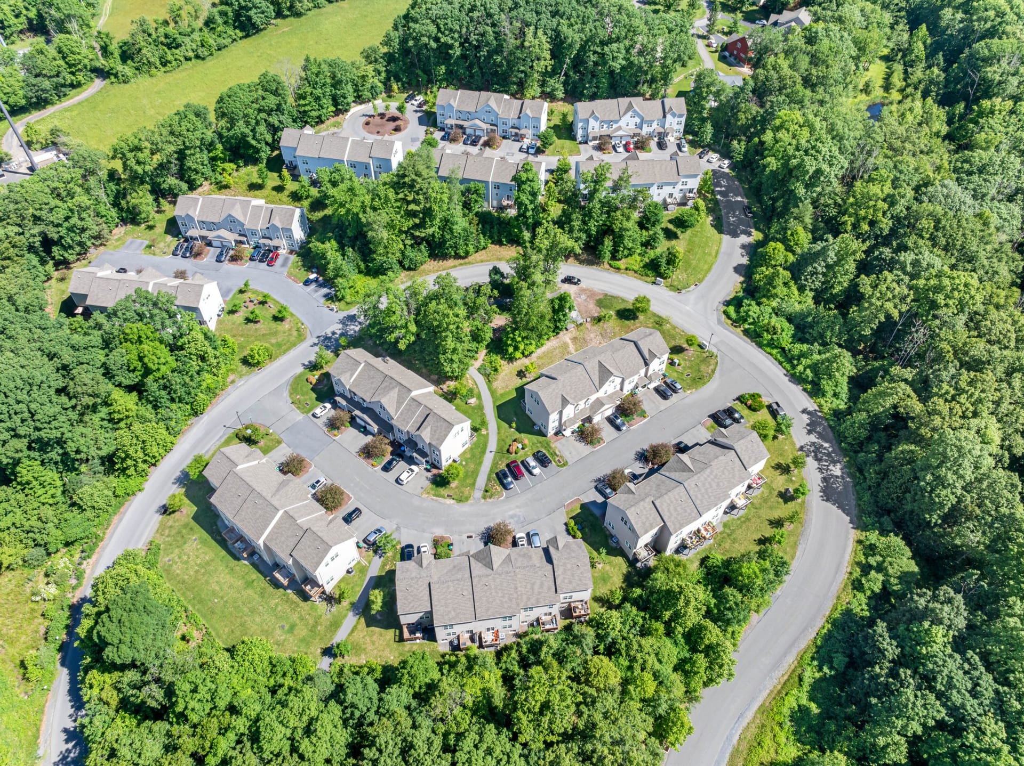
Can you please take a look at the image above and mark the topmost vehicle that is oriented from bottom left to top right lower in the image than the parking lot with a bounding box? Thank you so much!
[310,401,334,420]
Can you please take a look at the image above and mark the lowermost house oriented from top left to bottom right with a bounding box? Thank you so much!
[202,442,359,606]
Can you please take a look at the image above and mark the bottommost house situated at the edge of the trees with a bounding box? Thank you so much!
[395,535,594,654]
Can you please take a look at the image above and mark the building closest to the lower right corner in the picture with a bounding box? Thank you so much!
[606,422,775,571]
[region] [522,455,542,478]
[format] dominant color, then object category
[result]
white car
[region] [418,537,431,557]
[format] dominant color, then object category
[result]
white vehicle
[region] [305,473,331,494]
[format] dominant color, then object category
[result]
white car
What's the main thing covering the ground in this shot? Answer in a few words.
trees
